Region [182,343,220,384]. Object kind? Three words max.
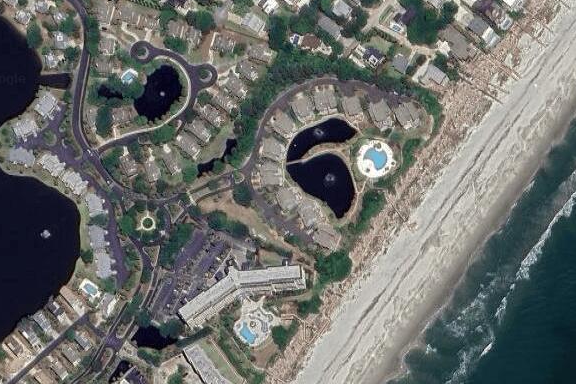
building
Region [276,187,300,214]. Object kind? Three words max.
house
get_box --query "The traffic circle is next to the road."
[126,201,169,245]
